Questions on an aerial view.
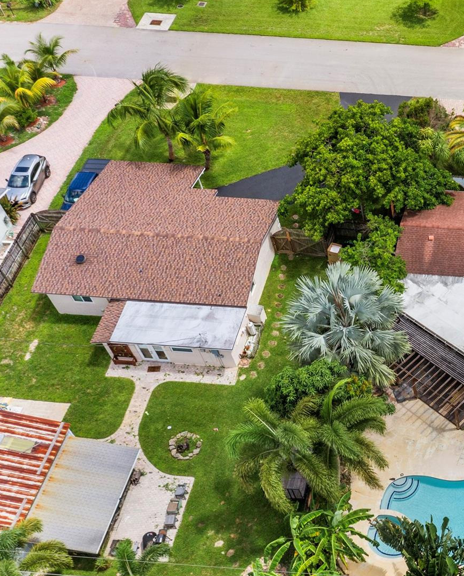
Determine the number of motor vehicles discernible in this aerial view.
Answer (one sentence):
The photo contains 2 motor vehicles.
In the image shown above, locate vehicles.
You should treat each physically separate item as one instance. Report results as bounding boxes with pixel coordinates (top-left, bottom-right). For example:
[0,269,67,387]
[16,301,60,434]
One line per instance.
[2,153,50,209]
[66,152,121,213]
